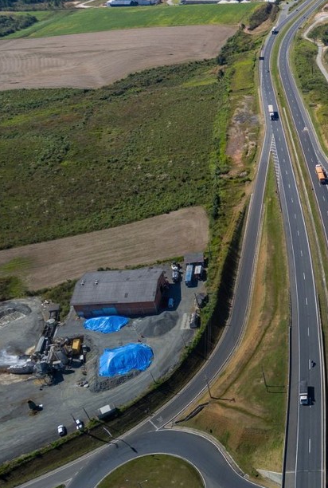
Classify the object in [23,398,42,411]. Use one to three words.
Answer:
vehicle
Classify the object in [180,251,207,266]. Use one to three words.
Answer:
shed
